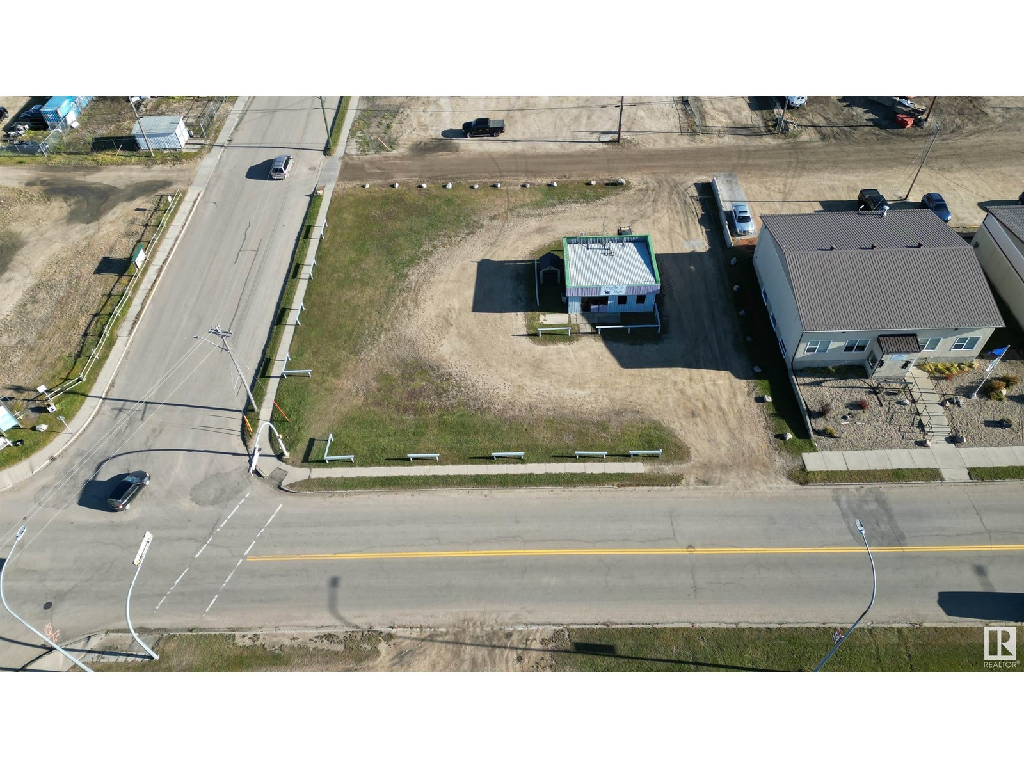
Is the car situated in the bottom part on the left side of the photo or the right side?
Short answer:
left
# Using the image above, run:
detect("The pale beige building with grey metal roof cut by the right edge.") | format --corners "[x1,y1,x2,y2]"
[971,205,1024,321]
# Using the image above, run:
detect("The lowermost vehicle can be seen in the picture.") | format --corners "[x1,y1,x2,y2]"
[104,471,153,517]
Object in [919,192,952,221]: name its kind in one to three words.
car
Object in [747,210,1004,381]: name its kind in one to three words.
building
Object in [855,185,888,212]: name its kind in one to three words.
truck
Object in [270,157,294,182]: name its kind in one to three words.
car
